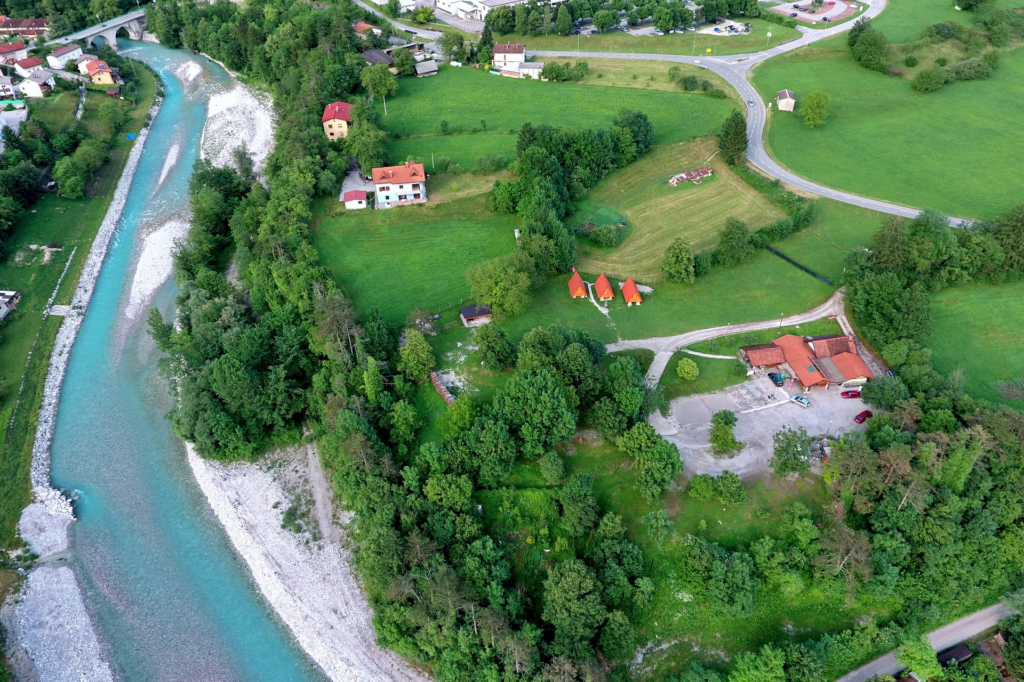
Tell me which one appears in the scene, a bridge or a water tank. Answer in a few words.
bridge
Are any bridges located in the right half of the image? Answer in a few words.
No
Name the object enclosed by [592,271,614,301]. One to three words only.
building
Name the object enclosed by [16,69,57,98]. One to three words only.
house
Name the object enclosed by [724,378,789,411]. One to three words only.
sports court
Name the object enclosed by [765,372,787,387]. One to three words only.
car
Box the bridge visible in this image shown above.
[22,9,155,52]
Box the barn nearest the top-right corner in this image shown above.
[775,88,796,111]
